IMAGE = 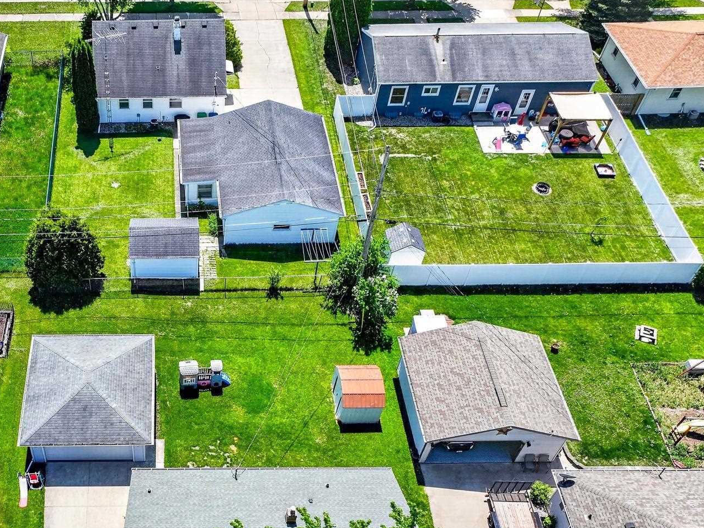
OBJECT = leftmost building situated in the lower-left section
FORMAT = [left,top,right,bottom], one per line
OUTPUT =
[17,334,156,477]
